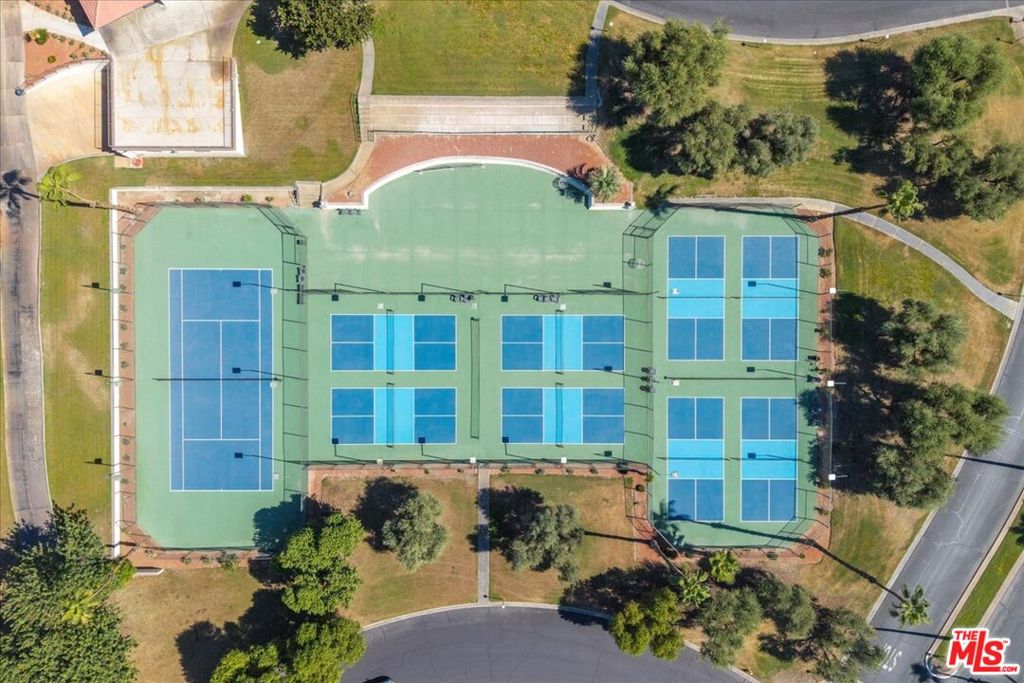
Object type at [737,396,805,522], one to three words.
sports court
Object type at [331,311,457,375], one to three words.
sports court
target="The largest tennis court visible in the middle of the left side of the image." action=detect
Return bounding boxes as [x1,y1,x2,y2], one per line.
[156,268,282,492]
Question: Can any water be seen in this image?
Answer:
No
